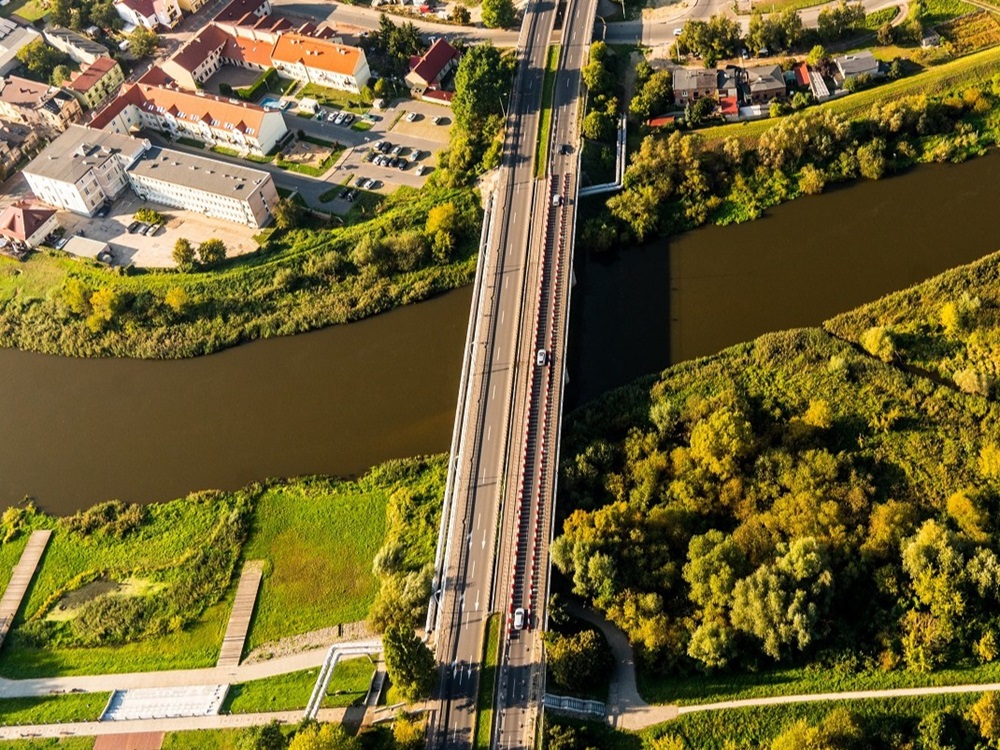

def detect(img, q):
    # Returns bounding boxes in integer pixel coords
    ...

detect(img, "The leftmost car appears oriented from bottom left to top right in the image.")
[53,236,68,250]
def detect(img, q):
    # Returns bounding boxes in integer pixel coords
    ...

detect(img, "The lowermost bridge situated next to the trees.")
[437,169,580,621]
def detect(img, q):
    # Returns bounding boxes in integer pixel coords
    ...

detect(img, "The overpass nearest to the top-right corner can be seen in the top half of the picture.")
[517,0,597,58]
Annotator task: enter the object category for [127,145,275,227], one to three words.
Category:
building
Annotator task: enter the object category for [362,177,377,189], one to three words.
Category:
vehicle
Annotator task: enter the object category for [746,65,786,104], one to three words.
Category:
house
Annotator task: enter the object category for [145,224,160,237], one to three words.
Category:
vehicle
